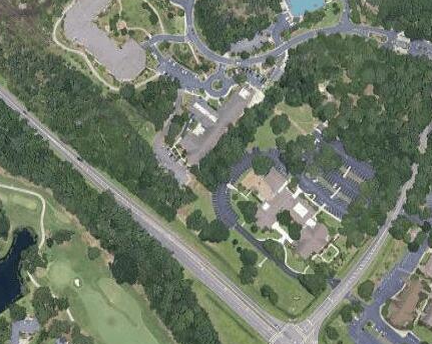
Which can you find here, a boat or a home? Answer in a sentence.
I can see a home in this picture.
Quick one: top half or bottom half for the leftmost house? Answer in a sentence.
It is in the bottom half that the leftmost house appears.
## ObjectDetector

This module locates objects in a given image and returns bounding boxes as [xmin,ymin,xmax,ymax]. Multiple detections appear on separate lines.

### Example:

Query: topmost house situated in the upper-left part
[65,0,147,82]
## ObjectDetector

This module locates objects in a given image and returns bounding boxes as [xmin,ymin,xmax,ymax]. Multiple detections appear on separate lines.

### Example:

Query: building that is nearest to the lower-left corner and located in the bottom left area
[9,316,43,344]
